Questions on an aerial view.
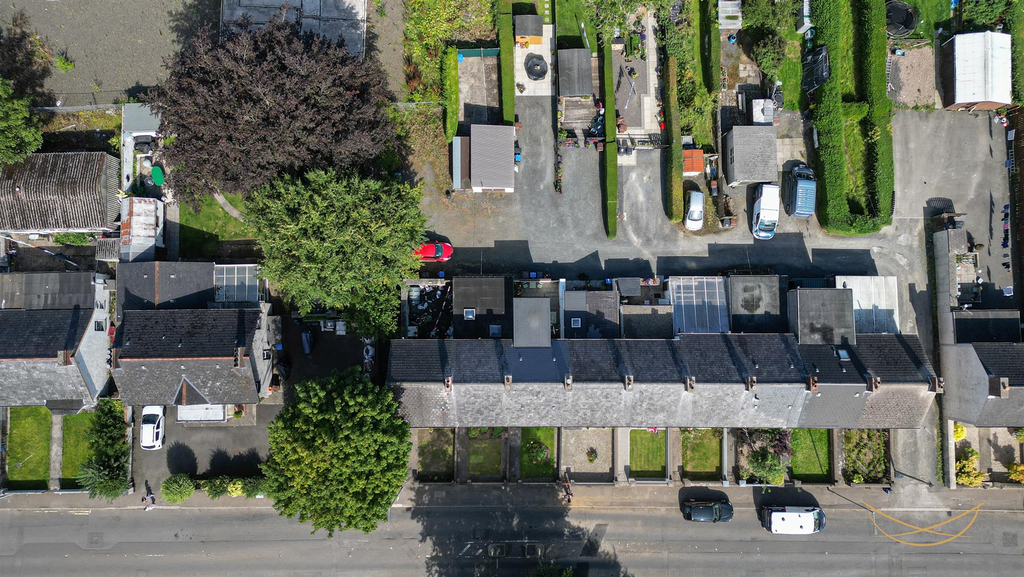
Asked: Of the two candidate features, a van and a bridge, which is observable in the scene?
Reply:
van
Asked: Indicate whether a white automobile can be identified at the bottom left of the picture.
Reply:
Yes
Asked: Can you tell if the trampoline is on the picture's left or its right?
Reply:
right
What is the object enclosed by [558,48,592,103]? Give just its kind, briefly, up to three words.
shed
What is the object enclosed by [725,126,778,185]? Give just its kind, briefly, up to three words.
shed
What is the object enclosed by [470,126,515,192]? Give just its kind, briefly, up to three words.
building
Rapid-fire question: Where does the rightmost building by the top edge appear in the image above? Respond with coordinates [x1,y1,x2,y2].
[940,28,1010,110]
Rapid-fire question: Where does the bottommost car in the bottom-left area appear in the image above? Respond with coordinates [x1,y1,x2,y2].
[138,406,169,453]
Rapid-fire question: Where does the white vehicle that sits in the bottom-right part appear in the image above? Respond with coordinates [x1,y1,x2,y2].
[759,503,820,533]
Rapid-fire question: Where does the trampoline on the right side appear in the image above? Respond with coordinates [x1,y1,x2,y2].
[884,0,924,39]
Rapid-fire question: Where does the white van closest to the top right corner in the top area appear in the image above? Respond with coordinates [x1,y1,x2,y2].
[751,182,780,238]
